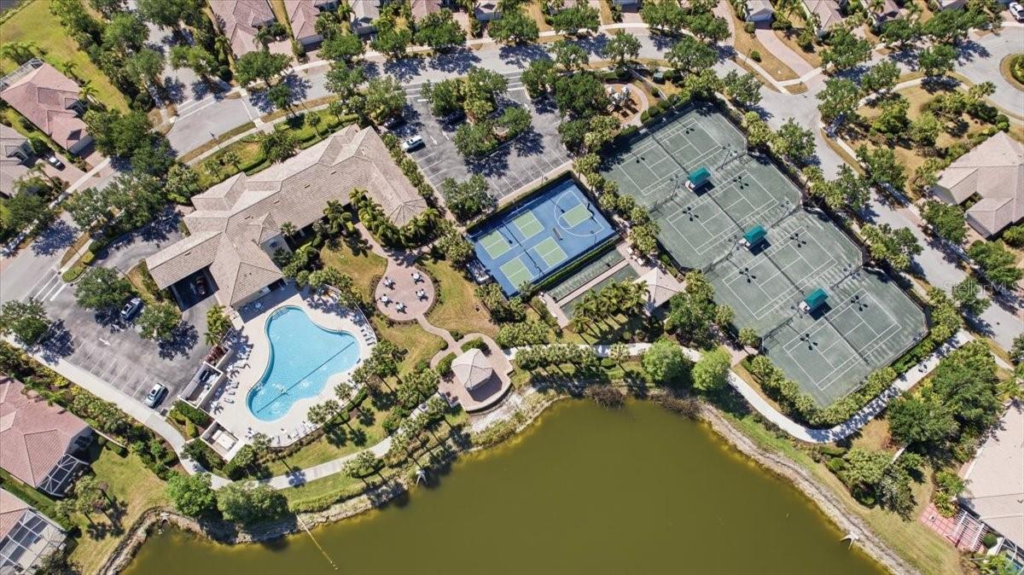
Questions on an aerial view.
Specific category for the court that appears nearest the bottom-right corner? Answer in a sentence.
Specifically, the court that appears nearest the bottom-right corner is a tennis court.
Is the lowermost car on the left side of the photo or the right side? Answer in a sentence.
You can find the lowermost car on the left side of the picture.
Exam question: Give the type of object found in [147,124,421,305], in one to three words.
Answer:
building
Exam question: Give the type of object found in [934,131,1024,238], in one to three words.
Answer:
house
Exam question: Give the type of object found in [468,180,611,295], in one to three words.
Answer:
basketball court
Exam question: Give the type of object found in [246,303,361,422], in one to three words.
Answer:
swimming pool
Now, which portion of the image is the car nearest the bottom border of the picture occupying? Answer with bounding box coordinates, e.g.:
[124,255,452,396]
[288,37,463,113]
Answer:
[146,382,167,405]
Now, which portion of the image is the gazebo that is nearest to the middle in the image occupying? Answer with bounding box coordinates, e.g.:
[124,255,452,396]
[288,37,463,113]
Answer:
[451,348,492,392]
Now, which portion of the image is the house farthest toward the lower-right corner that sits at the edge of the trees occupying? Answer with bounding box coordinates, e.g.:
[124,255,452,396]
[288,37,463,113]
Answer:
[957,405,1024,544]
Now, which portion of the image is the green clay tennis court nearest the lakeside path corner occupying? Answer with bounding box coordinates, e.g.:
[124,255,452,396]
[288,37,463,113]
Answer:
[762,266,927,407]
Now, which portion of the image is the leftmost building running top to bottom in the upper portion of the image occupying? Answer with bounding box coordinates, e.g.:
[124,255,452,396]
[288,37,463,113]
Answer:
[0,107,42,198]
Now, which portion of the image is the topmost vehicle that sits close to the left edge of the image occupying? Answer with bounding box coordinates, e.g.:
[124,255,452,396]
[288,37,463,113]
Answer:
[47,152,64,167]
